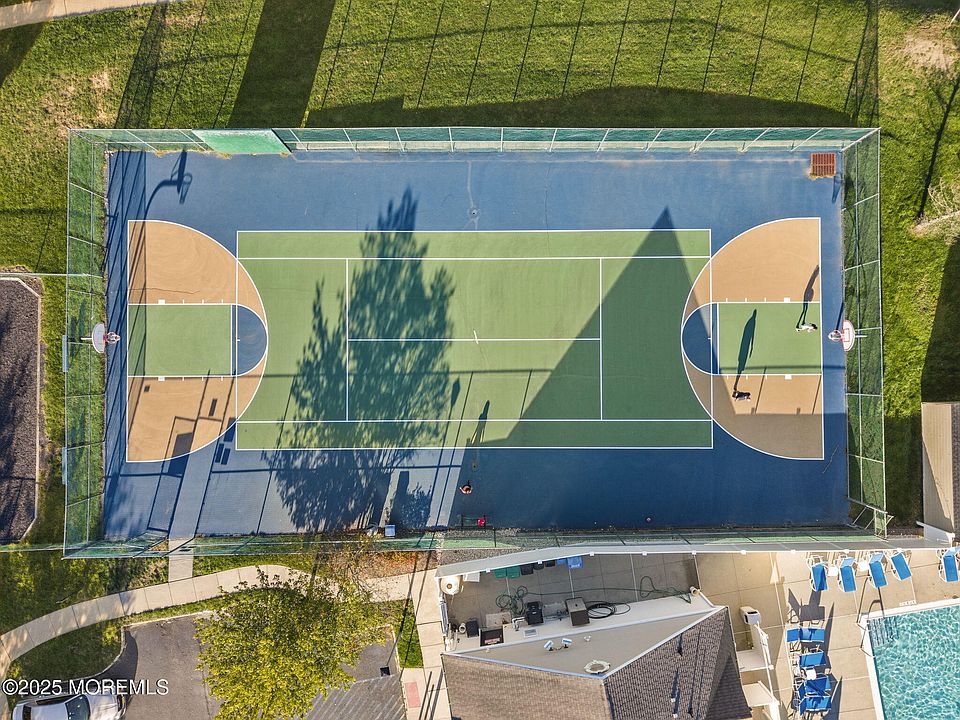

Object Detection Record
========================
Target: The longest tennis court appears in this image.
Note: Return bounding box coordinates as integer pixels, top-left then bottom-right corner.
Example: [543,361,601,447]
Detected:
[104,152,848,541]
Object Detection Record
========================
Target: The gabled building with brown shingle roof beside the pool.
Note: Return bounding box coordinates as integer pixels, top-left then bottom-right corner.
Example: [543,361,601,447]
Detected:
[439,588,756,720]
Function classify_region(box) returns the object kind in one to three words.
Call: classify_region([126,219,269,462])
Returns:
basketball court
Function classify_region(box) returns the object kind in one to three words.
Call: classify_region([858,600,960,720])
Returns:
swimming pool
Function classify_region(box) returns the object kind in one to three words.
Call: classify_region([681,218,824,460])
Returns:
basketball court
